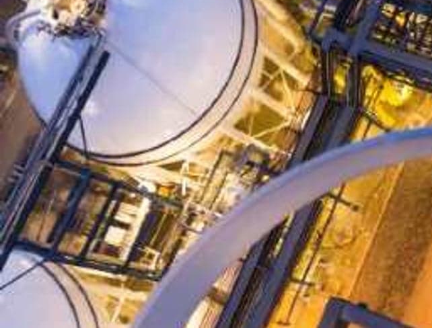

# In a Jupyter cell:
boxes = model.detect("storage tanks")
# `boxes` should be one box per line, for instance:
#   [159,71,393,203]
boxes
[14,0,311,187]
[0,239,157,328]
